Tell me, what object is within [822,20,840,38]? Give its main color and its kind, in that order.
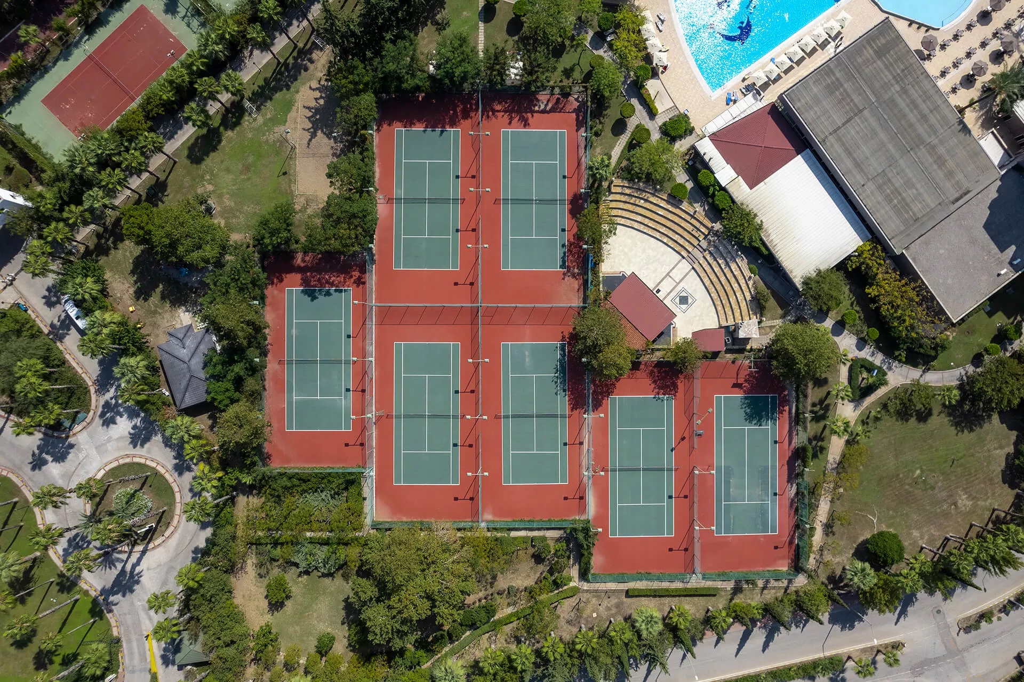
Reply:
white umbrella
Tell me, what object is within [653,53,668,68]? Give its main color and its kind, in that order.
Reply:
white umbrella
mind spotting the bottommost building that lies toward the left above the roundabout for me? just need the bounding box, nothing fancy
[160,324,221,410]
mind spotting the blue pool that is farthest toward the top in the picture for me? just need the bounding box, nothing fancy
[873,0,976,28]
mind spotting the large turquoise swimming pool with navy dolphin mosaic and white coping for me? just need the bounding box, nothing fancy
[669,0,852,96]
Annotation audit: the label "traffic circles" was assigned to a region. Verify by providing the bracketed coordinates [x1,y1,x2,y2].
[83,453,183,554]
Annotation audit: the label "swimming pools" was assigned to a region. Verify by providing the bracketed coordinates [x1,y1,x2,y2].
[669,0,852,96]
[873,0,976,28]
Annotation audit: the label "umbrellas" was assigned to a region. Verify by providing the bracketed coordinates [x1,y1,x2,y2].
[965,61,987,78]
[773,55,791,73]
[809,27,827,46]
[916,35,937,53]
[750,69,768,88]
[785,45,804,62]
[982,0,1004,15]
[762,63,780,81]
[834,11,852,29]
[649,37,663,55]
[822,20,840,38]
[653,53,668,68]
[797,36,815,54]
[992,35,1013,53]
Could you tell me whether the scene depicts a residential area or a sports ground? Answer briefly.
sports ground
